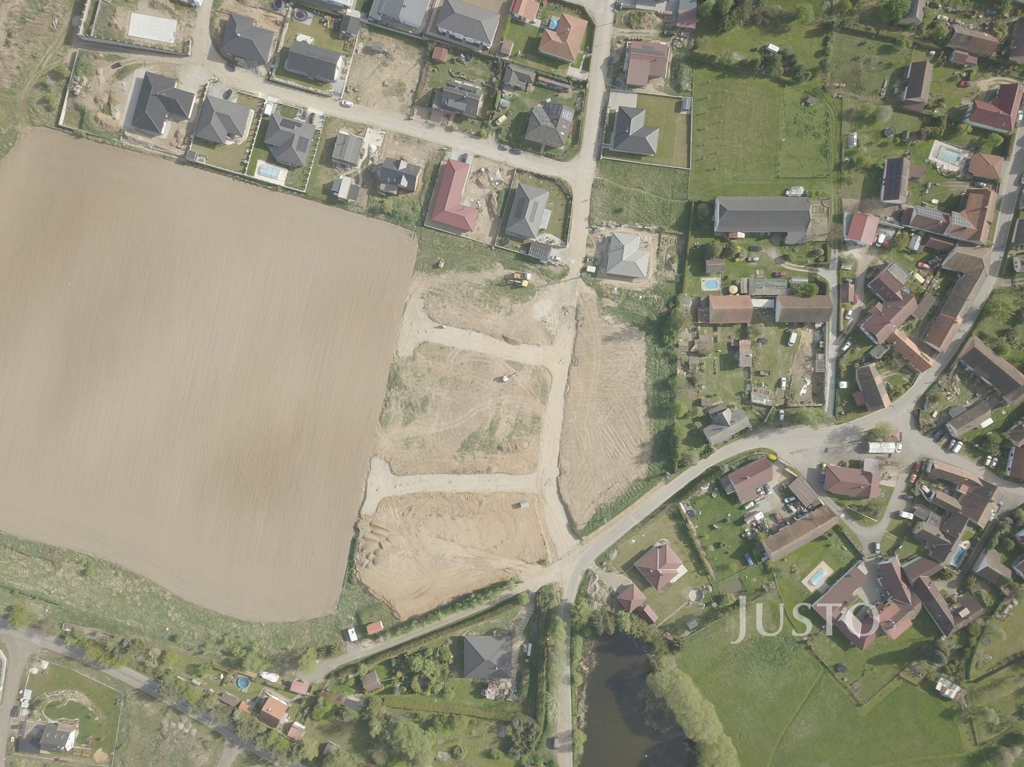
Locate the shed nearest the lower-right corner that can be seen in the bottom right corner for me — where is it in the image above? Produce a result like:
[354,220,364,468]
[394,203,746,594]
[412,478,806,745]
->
[932,677,966,701]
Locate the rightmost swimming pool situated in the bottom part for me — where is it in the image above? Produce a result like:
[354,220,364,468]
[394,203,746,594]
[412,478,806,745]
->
[948,542,967,571]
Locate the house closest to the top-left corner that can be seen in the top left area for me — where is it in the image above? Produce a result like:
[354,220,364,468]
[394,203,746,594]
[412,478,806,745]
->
[131,71,198,134]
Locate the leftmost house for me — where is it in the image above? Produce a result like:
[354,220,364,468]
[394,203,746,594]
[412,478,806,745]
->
[19,720,82,756]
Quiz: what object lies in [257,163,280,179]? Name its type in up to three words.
swimming pool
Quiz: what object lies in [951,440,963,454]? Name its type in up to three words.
vehicle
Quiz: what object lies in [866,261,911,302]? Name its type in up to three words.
house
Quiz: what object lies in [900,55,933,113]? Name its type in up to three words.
barn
